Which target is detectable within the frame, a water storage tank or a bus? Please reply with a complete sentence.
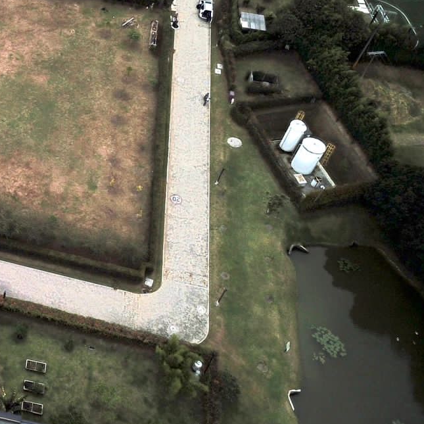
Visible in the photo is a water storage tank.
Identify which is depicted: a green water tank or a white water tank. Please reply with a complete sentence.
I can see a white water tank in this picture.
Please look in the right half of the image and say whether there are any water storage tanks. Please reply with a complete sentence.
Yes, you'll find a water storage tank in the right half of the image.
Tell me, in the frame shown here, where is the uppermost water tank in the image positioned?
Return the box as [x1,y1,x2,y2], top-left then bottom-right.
[279,119,310,155]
